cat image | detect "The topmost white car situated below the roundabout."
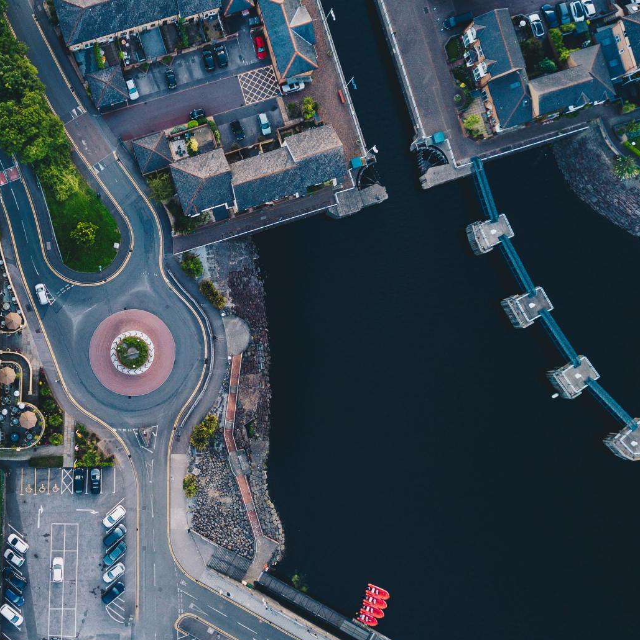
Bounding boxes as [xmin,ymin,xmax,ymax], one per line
[103,506,128,530]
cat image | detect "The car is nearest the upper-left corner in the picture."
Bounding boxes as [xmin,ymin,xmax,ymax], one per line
[125,75,140,100]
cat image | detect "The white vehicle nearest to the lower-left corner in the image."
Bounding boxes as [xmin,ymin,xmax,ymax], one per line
[0,603,26,627]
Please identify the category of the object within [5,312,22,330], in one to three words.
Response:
umbrella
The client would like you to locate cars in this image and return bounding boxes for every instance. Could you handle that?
[253,34,268,61]
[256,111,273,136]
[2,565,28,591]
[230,117,246,142]
[541,2,558,27]
[555,0,574,28]
[279,83,308,97]
[101,523,128,548]
[51,557,64,582]
[125,75,140,100]
[72,466,85,494]
[582,0,597,20]
[7,533,30,555]
[569,0,586,22]
[0,603,26,627]
[528,13,546,36]
[202,47,217,72]
[164,68,177,90]
[103,562,126,584]
[35,281,50,307]
[245,14,260,27]
[103,506,128,530]
[2,547,27,570]
[3,586,28,609]
[90,467,103,495]
[104,542,127,564]
[187,107,209,120]
[100,581,127,605]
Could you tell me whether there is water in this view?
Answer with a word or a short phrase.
Yes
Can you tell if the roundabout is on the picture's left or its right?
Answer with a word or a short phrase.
left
